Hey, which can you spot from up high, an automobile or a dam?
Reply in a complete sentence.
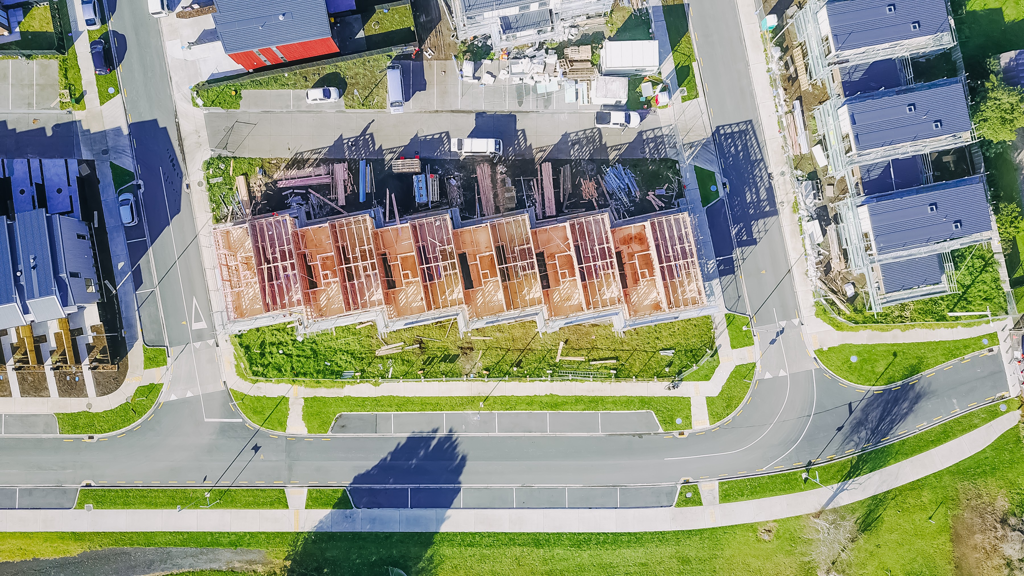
The one in the frame is an automobile.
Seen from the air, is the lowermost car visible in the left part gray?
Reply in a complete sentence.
No, the lowermost car visible in the left part is blue.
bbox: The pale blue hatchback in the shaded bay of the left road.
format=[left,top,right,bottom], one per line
[119,193,140,228]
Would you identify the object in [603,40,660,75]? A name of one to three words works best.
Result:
building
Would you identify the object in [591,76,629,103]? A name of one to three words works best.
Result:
building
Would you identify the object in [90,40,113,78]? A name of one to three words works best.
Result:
car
